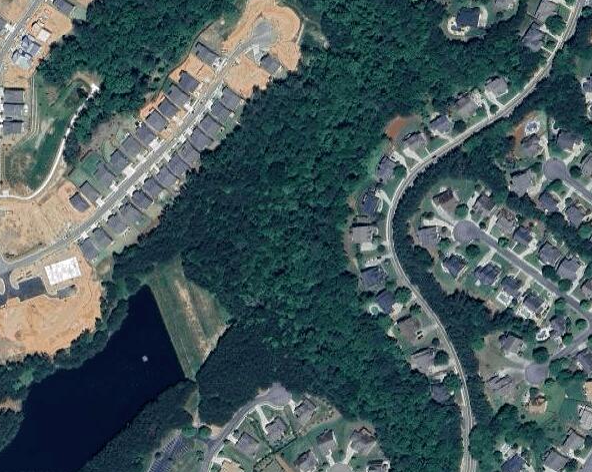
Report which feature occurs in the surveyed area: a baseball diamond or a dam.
dam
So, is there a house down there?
Yes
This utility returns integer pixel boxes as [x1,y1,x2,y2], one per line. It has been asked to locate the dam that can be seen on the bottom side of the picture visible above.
[148,273,203,377]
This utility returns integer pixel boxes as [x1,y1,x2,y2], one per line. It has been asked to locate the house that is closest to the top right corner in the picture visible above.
[535,0,561,21]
